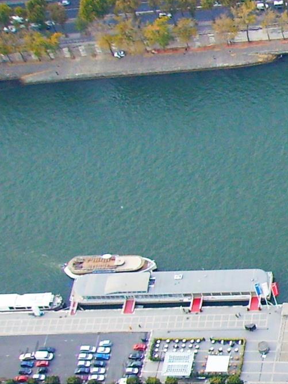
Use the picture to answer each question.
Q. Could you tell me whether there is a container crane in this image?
No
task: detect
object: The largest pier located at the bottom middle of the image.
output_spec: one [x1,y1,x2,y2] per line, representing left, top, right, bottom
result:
[72,271,274,309]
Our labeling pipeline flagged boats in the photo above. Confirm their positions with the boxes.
[0,292,69,313]
[68,253,154,277]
